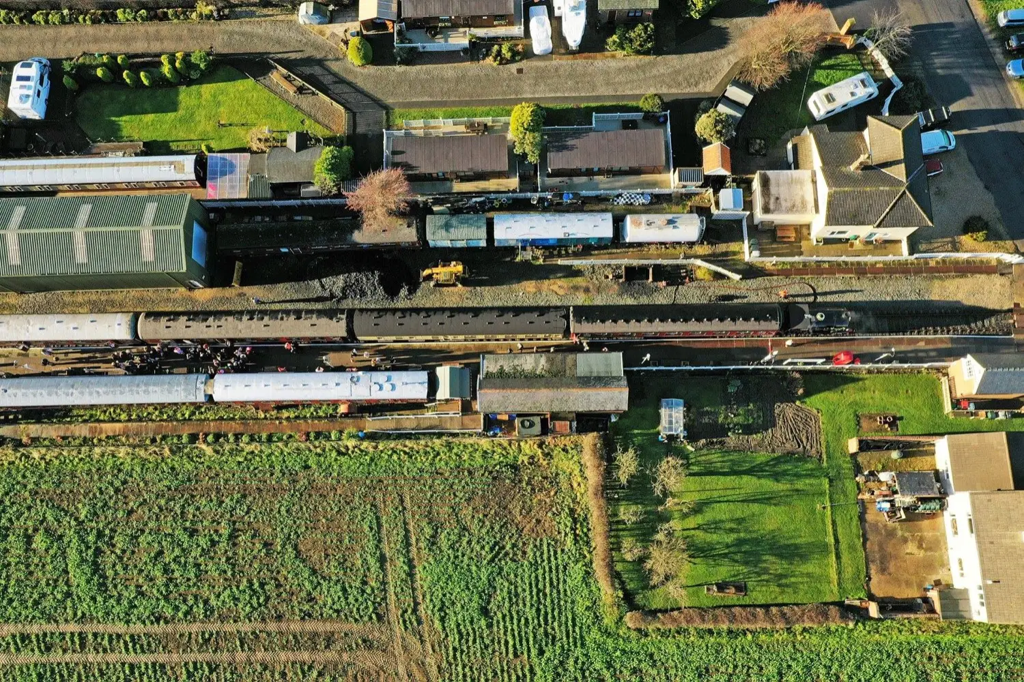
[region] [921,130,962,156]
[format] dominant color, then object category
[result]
blue vehicle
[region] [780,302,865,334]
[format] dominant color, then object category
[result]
black rail car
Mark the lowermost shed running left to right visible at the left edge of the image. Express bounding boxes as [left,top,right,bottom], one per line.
[0,193,213,293]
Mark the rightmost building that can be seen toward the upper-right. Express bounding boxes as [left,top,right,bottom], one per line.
[751,114,934,241]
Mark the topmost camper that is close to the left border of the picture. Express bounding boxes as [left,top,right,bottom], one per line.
[9,59,53,118]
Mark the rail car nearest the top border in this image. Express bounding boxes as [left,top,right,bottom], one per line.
[618,214,709,245]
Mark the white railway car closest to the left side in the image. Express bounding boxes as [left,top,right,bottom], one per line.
[0,312,146,348]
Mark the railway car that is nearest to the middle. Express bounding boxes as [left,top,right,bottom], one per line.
[350,306,570,343]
